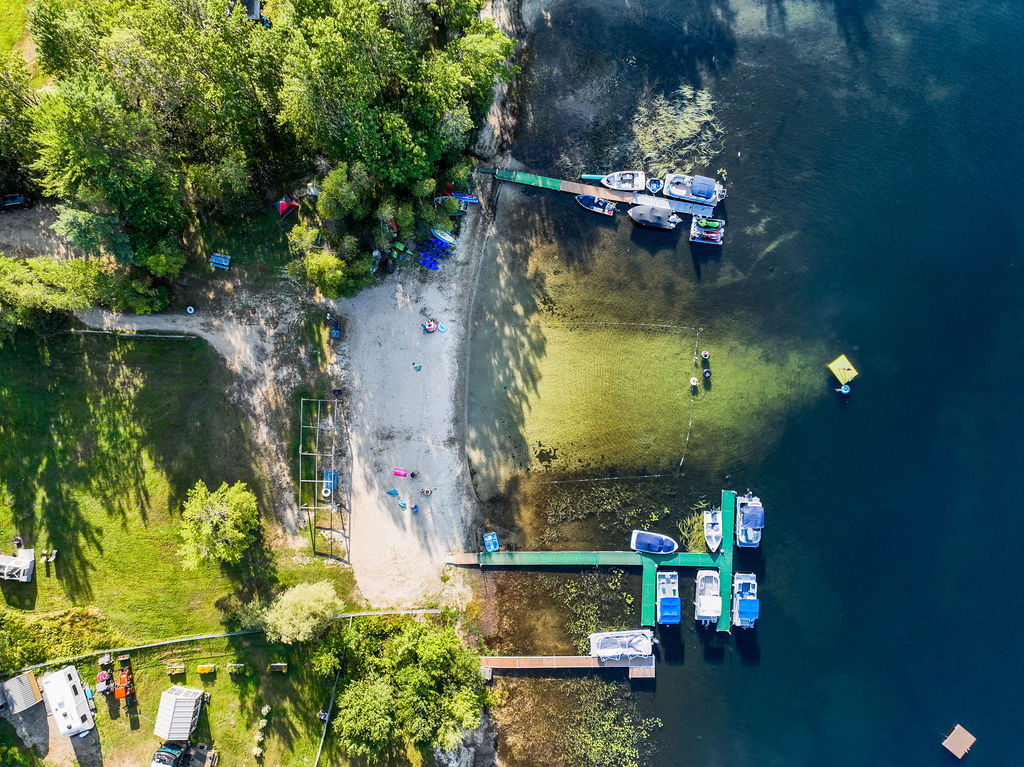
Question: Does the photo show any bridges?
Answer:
No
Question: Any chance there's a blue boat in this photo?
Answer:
Yes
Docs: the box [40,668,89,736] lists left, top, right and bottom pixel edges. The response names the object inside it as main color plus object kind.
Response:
white vehicle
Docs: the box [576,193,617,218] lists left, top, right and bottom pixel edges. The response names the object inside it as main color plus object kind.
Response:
blue boat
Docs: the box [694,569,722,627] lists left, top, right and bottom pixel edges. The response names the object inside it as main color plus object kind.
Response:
white boat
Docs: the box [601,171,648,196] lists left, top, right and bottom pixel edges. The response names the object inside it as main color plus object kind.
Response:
white boat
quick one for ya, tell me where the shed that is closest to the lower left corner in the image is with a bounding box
[0,669,45,717]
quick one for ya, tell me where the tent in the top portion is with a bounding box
[270,190,299,222]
